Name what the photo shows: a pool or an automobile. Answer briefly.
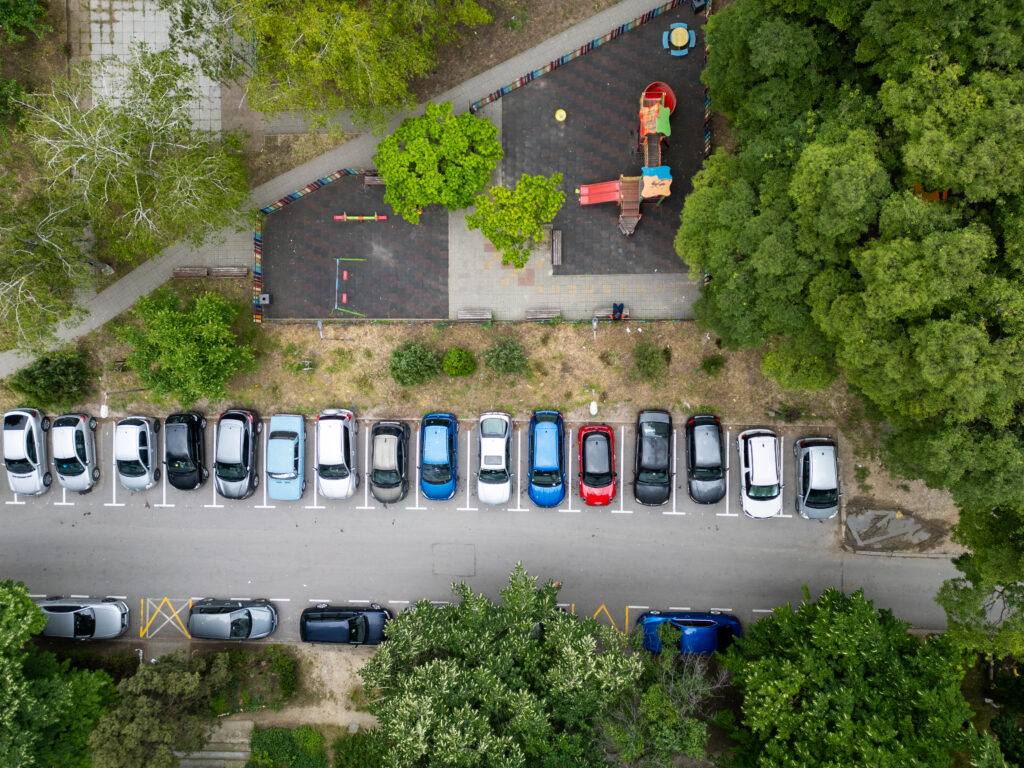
automobile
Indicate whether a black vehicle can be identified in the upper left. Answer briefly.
No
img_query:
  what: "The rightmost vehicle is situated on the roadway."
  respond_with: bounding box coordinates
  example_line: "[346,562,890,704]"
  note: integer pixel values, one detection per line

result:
[795,436,843,521]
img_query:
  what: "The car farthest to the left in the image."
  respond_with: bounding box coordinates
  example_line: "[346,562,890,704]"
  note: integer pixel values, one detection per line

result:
[1,408,52,495]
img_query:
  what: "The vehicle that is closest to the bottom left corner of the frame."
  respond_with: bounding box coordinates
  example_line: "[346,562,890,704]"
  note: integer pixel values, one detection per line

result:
[37,597,130,644]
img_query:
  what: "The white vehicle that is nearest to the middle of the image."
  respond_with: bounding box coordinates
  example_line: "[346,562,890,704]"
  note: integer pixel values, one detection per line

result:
[473,412,515,505]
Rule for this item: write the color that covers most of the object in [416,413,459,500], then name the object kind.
blue car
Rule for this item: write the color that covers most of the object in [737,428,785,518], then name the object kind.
white car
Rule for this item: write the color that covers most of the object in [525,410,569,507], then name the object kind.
blue car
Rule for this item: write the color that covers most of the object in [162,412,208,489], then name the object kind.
black car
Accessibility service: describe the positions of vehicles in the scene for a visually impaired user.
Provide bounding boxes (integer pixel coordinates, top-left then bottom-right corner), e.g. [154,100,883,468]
[162,412,208,489]
[313,409,359,499]
[367,421,410,503]
[473,412,515,505]
[575,424,620,507]
[416,413,459,500]
[737,428,785,518]
[525,410,569,507]
[299,603,394,650]
[632,409,677,507]
[263,414,306,500]
[1,408,52,495]
[637,608,742,656]
[50,413,99,491]
[212,409,262,499]
[795,436,843,521]
[37,597,130,644]
[185,599,278,645]
[685,414,731,504]
[113,416,160,491]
